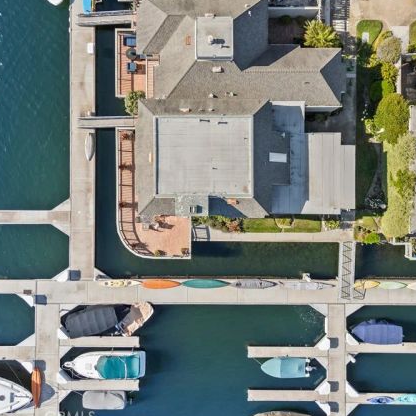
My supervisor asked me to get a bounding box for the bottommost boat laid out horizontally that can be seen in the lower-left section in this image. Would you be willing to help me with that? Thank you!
[72,386,135,410]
